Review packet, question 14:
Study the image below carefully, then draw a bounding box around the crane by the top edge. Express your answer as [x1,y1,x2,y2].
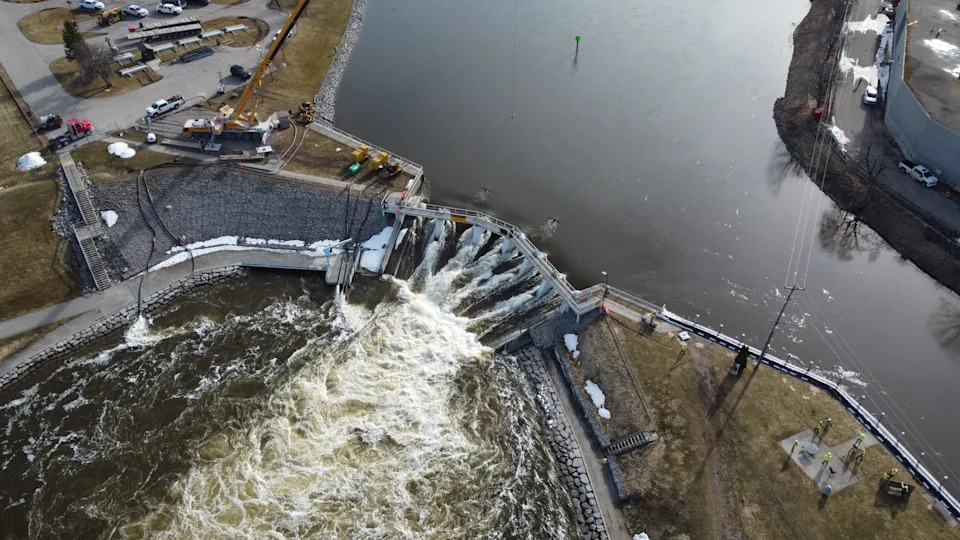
[184,0,308,144]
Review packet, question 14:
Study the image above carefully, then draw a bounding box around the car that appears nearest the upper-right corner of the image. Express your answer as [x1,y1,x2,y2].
[864,83,881,104]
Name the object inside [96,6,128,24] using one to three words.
work vehicle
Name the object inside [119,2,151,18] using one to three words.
vehicle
